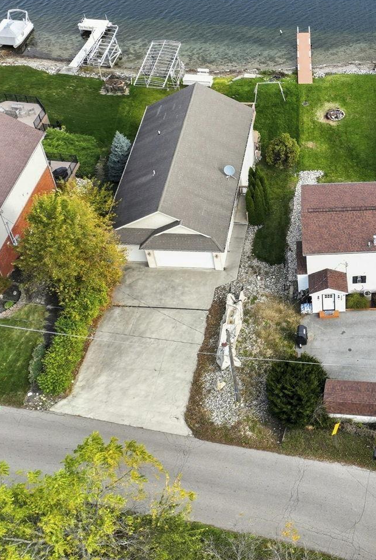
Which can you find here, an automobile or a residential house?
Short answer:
residential house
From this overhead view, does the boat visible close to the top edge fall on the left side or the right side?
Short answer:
left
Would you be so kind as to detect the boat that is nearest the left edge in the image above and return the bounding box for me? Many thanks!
[0,9,33,50]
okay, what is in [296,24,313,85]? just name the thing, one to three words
pier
